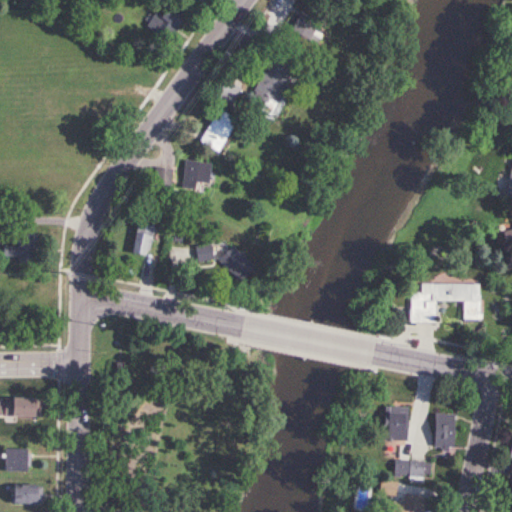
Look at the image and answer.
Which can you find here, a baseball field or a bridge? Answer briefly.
bridge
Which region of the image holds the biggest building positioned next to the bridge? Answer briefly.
right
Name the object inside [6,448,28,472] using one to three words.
house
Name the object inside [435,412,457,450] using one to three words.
house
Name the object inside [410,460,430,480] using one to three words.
building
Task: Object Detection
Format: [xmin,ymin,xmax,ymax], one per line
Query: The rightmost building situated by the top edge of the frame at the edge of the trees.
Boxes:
[293,24,324,42]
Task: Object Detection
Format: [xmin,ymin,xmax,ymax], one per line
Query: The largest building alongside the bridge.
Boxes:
[410,283,484,324]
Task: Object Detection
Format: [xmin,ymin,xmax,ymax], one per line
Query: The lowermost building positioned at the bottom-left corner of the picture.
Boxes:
[14,484,44,504]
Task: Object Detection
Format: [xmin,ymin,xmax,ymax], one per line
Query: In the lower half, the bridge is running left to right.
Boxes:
[232,308,384,373]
